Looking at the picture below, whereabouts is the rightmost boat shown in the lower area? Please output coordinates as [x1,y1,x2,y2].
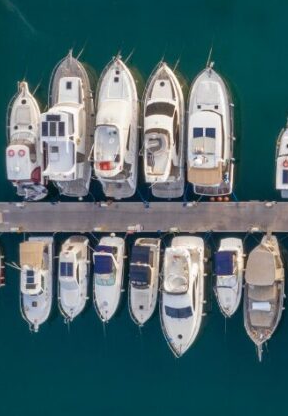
[242,226,288,359]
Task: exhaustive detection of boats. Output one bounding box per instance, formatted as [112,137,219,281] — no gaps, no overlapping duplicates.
[159,229,212,359]
[13,187,45,200]
[242,226,288,359]
[184,49,237,205]
[90,51,146,204]
[41,49,99,204]
[54,231,94,326]
[4,74,44,203]
[127,229,165,330]
[140,55,190,205]
[212,230,248,323]
[273,123,288,202]
[89,230,130,331]
[4,231,58,337]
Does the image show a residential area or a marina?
marina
